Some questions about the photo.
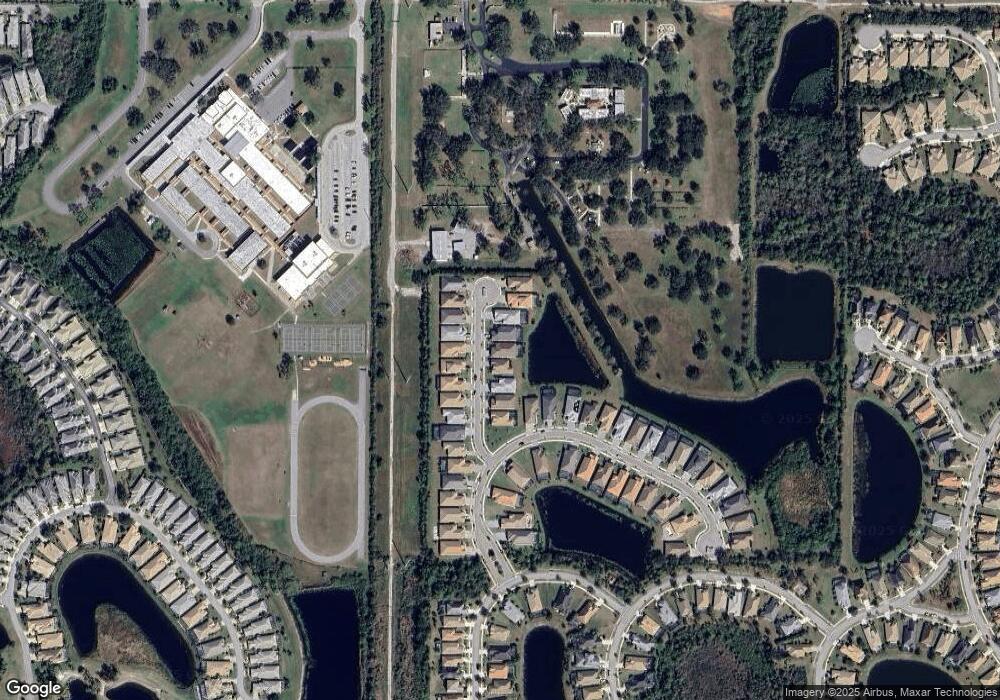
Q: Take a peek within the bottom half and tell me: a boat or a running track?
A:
running track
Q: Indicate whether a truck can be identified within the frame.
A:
No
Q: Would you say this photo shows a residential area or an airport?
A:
residential area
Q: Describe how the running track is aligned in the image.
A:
up and down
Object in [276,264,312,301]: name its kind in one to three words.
building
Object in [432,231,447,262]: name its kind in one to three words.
shed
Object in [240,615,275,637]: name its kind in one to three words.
house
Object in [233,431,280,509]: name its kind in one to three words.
sports field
